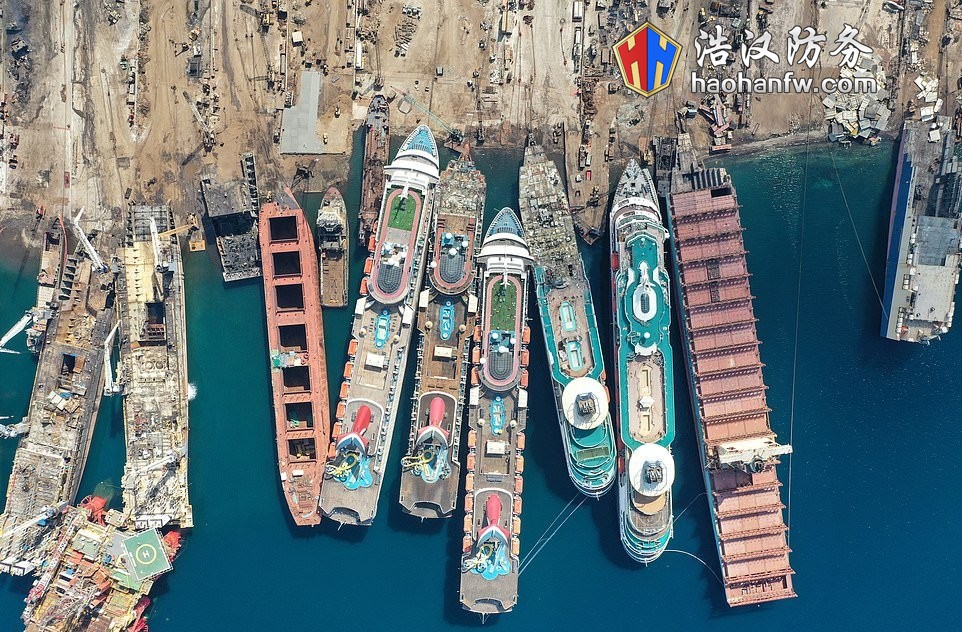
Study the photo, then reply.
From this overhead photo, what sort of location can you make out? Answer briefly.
port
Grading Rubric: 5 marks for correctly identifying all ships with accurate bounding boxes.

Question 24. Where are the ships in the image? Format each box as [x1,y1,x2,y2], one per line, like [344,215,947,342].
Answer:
[517,146,616,499]
[610,160,675,567]
[320,125,444,527]
[26,213,71,351]
[665,136,797,610]
[400,164,491,521]
[357,94,390,243]
[459,206,533,613]
[113,204,194,528]
[201,153,264,282]
[318,186,350,306]
[260,187,330,526]
[0,254,119,575]
[882,119,962,344]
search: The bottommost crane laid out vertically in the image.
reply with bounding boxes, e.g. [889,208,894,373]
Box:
[103,317,123,394]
